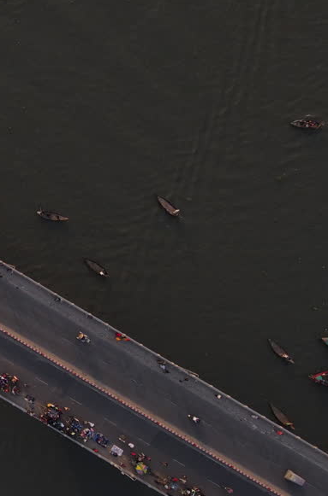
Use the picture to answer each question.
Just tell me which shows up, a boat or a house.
boat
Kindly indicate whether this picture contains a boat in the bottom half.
Yes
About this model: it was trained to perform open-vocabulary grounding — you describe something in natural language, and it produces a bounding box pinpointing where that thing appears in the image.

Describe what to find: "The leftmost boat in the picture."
[36,202,71,221]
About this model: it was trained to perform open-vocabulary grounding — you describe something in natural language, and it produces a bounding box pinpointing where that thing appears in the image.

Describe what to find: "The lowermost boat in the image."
[270,403,298,431]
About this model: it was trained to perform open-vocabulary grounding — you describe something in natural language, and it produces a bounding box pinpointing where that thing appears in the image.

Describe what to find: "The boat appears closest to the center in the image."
[157,196,182,217]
